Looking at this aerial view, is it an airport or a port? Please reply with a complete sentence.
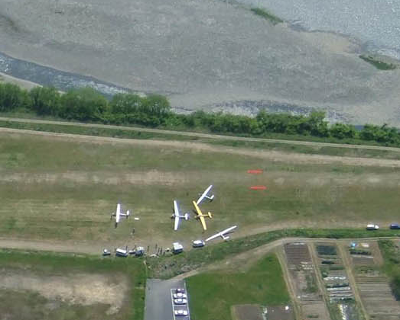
It's an airport.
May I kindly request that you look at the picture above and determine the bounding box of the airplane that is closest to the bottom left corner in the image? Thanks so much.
[111,204,130,222]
